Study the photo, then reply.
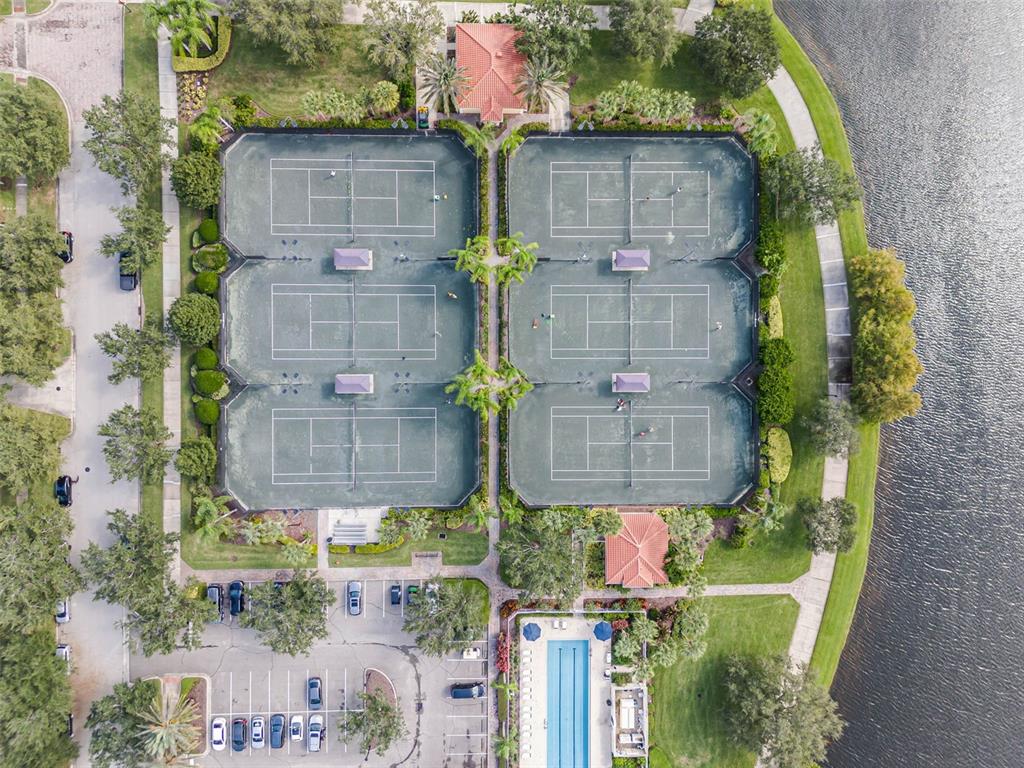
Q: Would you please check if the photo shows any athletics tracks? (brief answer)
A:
No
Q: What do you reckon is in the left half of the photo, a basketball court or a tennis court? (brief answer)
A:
tennis court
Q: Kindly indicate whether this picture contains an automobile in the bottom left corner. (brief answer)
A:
Yes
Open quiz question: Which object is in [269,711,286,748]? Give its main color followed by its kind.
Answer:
blue car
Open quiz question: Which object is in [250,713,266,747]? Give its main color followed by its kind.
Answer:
white car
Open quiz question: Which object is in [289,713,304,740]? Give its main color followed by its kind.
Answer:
white car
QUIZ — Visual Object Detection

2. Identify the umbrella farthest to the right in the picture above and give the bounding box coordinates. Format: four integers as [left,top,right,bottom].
[594,622,611,639]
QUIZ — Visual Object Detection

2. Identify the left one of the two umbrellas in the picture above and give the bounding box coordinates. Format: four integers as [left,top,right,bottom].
[523,623,541,640]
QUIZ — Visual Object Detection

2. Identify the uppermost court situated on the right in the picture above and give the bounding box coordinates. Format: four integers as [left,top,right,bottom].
[509,137,752,260]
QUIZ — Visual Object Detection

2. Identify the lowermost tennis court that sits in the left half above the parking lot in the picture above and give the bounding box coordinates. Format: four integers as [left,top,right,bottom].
[227,384,477,509]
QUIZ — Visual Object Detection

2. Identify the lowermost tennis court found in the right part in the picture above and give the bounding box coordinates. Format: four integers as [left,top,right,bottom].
[509,382,753,505]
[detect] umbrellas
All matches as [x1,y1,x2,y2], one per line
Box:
[594,622,611,639]
[523,623,541,640]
